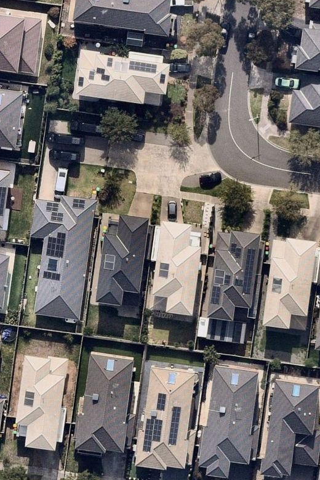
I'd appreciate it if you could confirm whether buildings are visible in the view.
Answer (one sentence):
Yes, the frame does contain a building.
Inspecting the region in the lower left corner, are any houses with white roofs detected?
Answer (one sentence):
Yes, I can see a house with a white roof in the lower left corner.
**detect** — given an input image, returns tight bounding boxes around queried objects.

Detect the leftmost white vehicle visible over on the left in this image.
[54,167,68,195]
